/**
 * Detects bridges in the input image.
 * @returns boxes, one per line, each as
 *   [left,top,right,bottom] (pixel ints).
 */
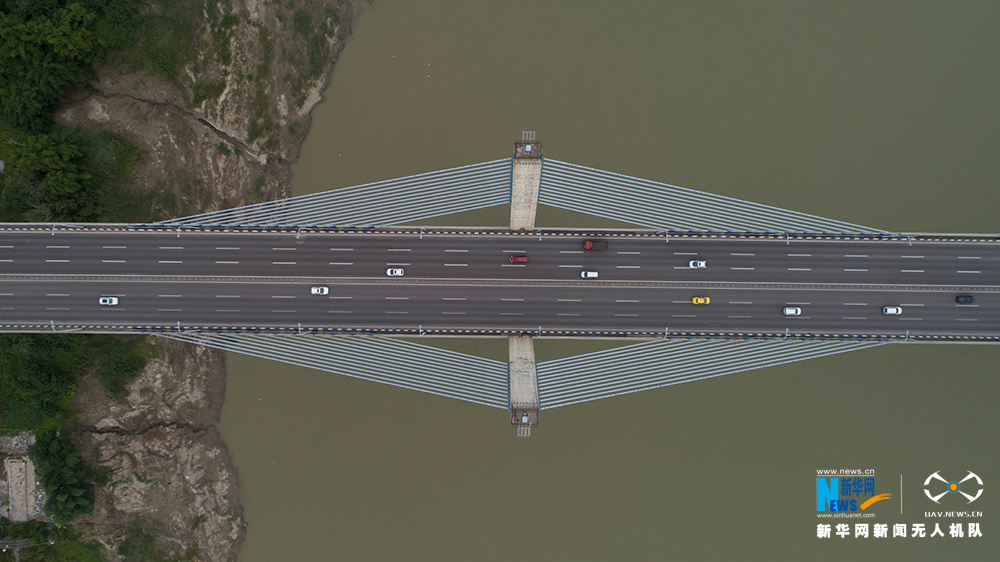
[0,128,1000,439]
